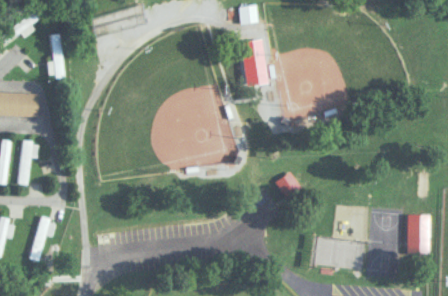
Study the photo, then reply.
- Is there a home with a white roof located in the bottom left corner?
Yes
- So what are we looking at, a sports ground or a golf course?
sports ground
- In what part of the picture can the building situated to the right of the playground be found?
bottom right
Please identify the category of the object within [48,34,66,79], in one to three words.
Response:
house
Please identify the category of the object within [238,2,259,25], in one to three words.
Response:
building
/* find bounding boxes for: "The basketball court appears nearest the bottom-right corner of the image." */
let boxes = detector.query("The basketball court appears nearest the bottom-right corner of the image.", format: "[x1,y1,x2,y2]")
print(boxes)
[368,208,402,274]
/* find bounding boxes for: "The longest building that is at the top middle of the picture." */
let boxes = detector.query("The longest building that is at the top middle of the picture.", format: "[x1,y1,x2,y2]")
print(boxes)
[244,38,270,86]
